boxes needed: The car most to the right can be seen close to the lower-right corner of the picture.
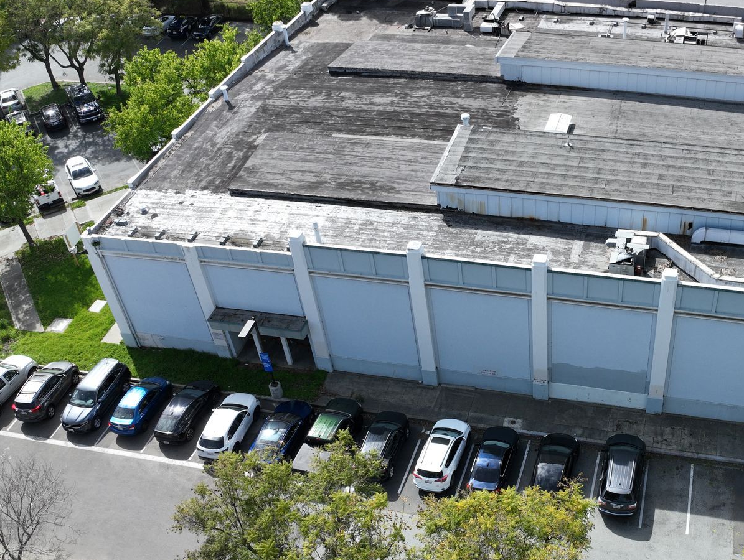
[597,441,644,516]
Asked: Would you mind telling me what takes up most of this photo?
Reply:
buildings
